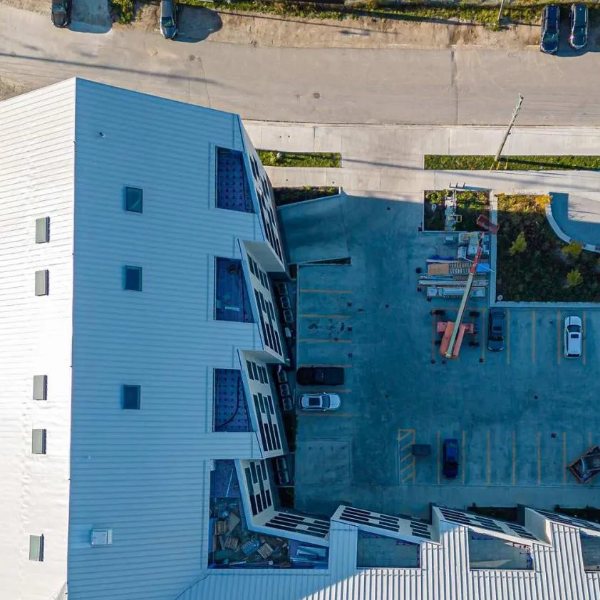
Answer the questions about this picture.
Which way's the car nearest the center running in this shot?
from left to right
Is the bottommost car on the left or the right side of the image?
right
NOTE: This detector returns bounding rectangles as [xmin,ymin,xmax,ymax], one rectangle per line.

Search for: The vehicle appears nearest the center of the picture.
[296,365,346,386]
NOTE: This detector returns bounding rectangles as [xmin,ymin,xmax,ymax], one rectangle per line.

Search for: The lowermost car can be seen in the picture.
[441,437,461,478]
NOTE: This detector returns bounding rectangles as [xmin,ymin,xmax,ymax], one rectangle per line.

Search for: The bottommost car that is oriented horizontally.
[299,392,341,412]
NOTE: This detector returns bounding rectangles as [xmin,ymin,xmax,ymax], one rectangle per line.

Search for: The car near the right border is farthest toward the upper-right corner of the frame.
[568,3,590,50]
